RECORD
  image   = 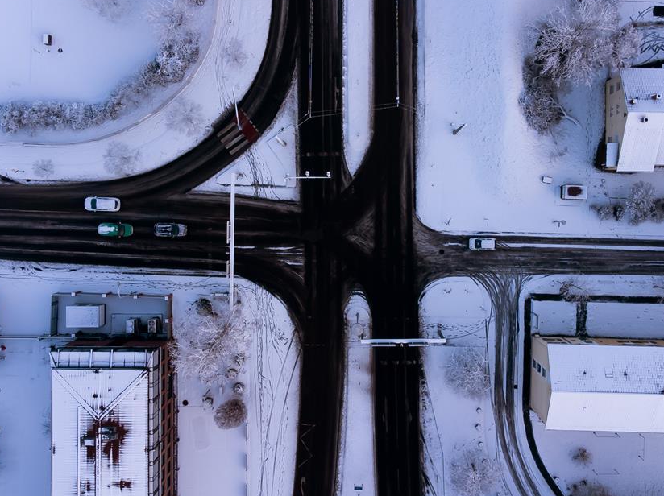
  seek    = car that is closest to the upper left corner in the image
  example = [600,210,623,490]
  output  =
[84,196,121,213]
